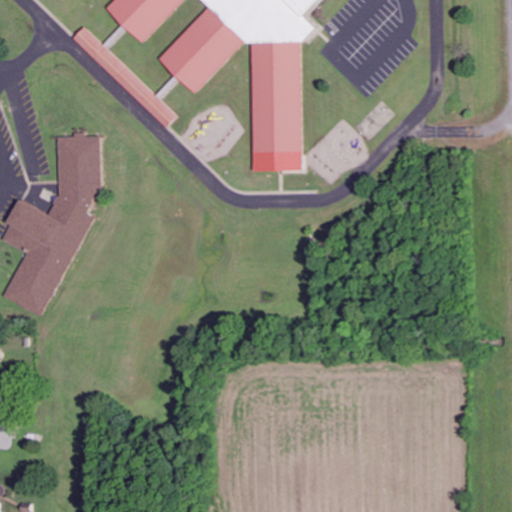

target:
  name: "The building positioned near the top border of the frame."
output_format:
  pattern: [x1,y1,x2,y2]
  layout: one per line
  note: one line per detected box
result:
[107,0,317,170]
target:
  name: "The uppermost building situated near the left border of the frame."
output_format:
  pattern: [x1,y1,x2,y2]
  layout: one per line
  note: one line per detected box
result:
[2,131,101,316]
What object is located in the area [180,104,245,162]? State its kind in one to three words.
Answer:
playground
